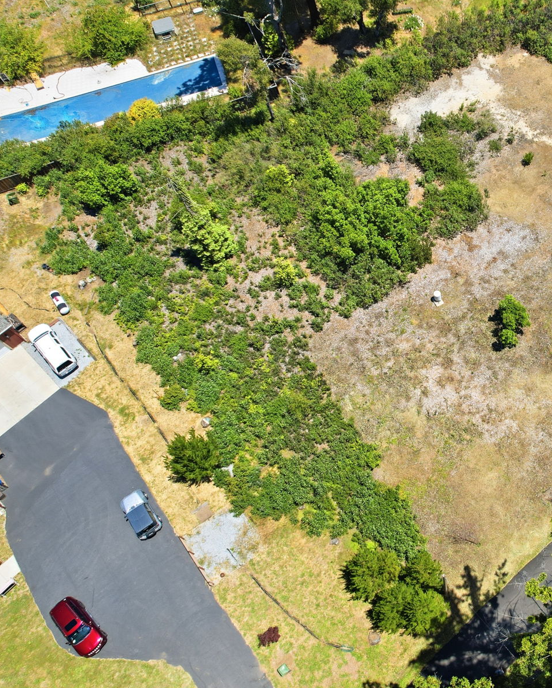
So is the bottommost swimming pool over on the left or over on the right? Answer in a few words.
left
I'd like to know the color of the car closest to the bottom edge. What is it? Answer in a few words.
red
